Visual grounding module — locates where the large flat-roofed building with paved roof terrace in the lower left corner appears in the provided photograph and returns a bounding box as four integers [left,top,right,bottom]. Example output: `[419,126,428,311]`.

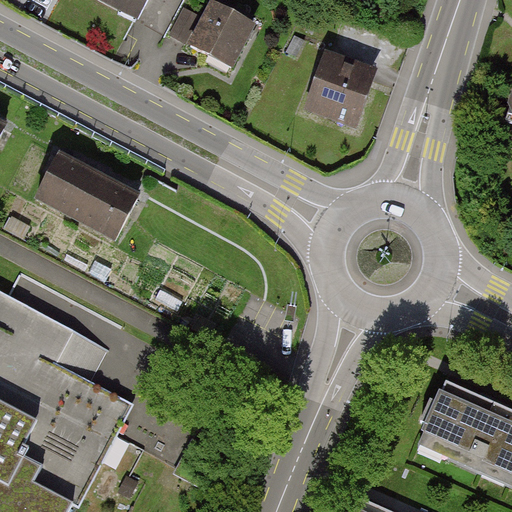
[0,290,133,512]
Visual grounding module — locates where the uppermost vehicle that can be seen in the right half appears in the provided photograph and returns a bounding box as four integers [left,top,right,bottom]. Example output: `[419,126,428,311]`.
[382,203,404,217]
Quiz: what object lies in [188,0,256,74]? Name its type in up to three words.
house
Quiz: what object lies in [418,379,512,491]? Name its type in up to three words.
building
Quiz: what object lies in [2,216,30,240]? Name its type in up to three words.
shed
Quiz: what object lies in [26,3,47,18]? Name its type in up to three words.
car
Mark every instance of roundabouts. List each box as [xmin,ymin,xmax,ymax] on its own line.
[310,183,460,331]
